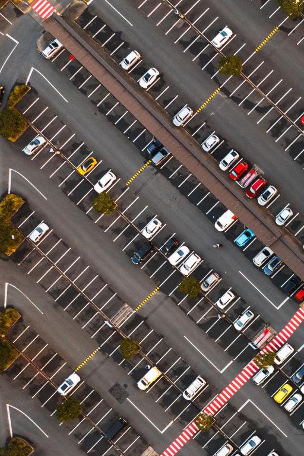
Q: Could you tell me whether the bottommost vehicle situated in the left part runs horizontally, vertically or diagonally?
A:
diagonally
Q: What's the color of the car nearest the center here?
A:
white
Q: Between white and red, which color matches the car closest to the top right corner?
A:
white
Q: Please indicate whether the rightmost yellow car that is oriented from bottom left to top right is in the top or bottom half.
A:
bottom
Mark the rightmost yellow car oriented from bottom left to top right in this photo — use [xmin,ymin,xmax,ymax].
[274,382,296,403]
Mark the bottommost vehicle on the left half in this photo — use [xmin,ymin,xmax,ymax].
[107,417,128,438]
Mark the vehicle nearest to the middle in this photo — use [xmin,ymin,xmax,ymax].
[141,218,163,239]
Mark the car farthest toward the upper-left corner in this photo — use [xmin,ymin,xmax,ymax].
[43,39,63,59]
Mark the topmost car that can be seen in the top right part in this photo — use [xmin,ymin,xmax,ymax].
[215,25,236,45]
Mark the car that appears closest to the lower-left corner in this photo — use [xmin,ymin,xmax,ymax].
[59,373,82,393]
